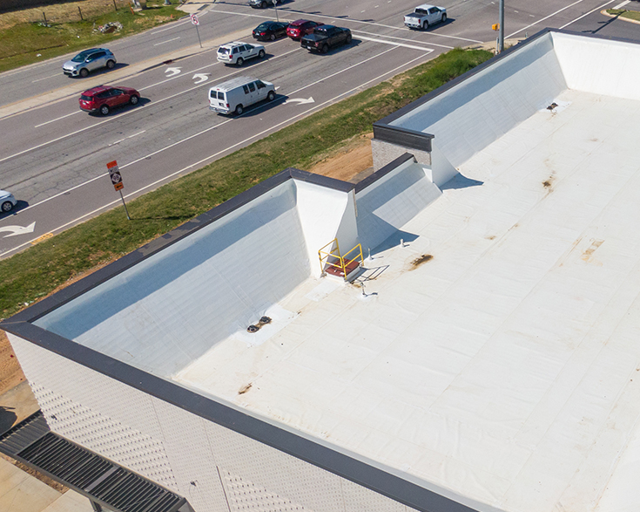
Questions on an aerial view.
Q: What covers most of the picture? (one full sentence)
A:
What you mostly see from above here is buildings.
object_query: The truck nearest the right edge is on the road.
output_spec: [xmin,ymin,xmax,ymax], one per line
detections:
[403,4,447,30]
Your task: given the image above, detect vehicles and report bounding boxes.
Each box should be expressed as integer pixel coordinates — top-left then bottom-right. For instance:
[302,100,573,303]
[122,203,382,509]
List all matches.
[251,20,283,41]
[246,0,283,9]
[0,189,18,213]
[280,19,321,42]
[208,75,277,114]
[58,46,116,78]
[300,25,352,53]
[216,40,266,66]
[403,4,447,30]
[76,85,141,115]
